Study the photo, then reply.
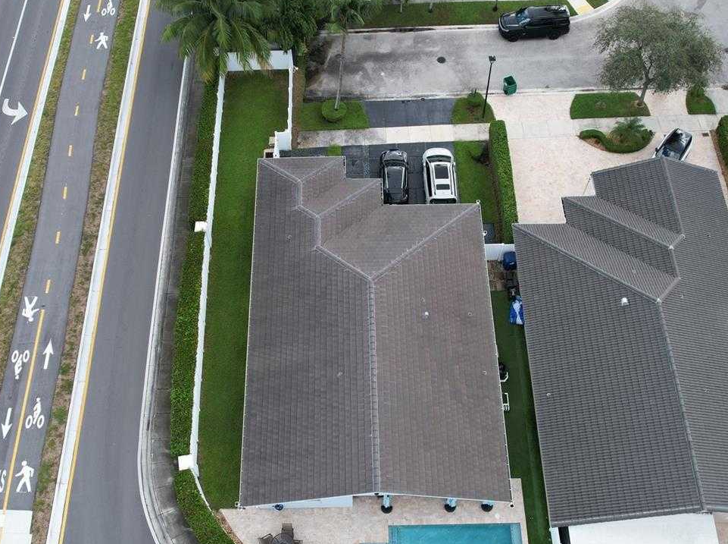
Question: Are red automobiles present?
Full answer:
No, there appears to be no red automobile in this shot.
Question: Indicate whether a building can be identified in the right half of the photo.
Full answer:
Yes, a building is visible in the right half of the photo.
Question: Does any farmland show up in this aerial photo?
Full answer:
No, the picture contains no farmland.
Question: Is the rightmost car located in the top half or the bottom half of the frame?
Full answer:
It is in the top half that the rightmost car appears.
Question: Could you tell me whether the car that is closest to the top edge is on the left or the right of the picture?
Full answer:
The car that is closest to the top edge is on the right side of the image.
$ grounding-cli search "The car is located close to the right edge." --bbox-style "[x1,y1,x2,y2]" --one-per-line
[656,127,698,165]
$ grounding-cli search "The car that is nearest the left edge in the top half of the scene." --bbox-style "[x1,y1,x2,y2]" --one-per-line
[379,149,412,204]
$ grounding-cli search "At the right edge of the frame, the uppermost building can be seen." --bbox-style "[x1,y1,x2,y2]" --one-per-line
[511,159,728,526]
